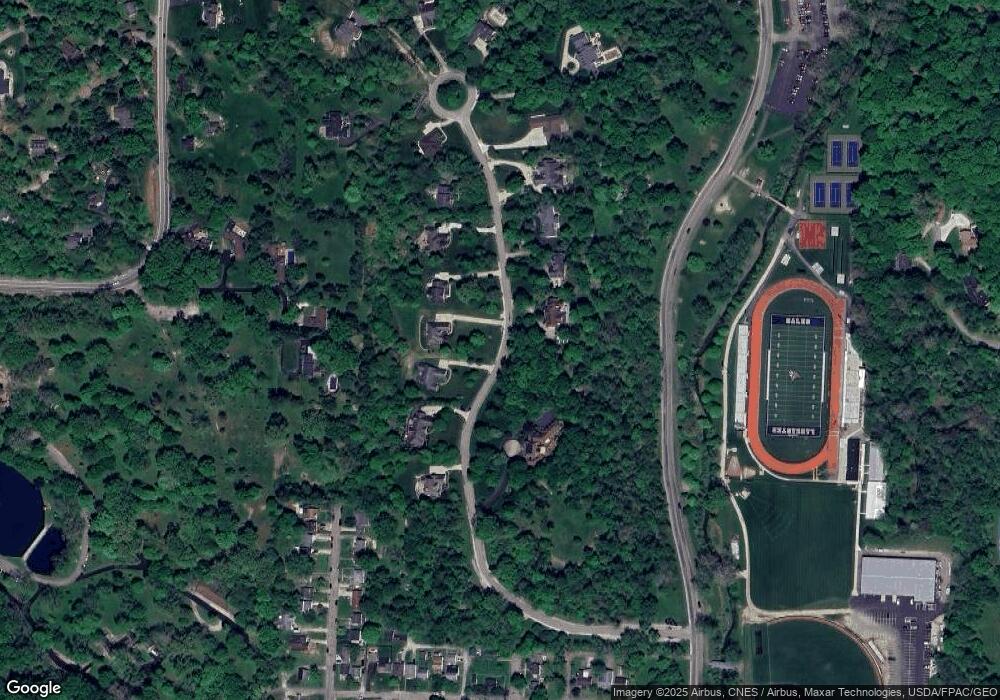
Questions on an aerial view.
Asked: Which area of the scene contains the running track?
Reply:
right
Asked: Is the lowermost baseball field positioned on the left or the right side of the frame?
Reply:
right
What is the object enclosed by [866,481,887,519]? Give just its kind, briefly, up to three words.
building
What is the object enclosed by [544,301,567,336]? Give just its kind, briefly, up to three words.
house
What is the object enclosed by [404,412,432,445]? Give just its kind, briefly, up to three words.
house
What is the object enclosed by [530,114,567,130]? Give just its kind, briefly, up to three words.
barn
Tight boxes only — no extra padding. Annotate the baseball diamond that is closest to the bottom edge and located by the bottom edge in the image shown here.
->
[741,615,882,700]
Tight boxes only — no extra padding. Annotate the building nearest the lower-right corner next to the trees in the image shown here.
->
[861,556,937,604]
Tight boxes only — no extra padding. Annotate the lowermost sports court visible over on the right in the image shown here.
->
[798,219,826,249]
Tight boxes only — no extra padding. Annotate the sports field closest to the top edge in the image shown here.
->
[758,289,833,460]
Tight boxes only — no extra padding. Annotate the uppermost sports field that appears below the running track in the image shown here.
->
[741,483,857,609]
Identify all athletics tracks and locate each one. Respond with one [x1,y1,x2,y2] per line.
[747,278,847,474]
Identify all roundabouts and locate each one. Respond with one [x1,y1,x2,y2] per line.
[431,72,476,118]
